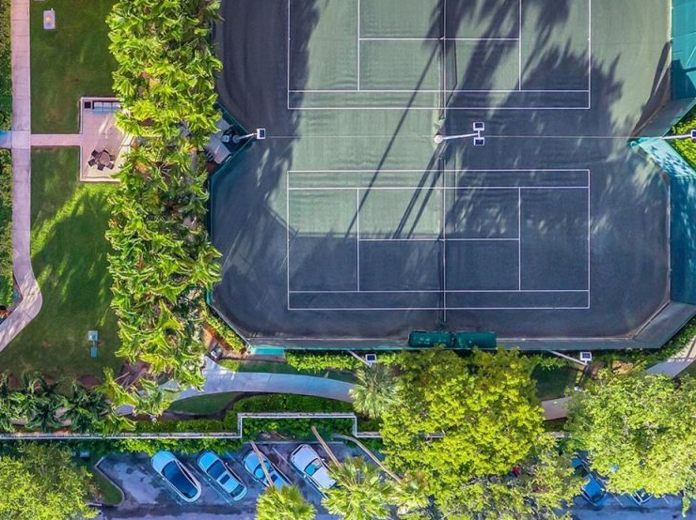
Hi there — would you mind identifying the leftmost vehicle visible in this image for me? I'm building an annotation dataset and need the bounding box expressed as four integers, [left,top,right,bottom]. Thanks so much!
[148,453,205,506]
